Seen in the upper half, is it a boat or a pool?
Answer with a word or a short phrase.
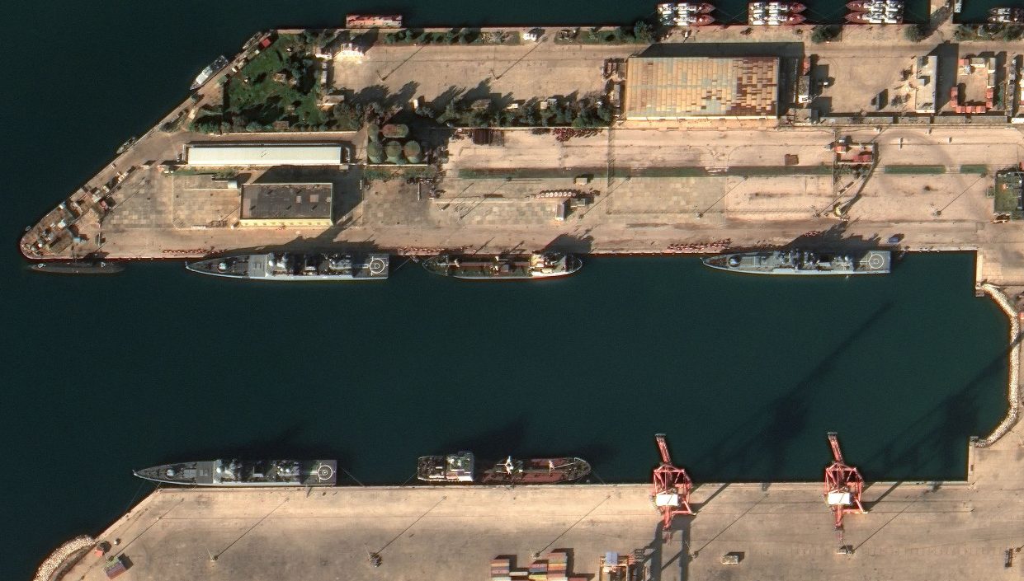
boat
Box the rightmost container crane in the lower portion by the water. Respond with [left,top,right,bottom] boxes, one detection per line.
[823,437,868,544]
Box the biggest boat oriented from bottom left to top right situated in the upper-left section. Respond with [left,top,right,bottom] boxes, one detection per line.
[190,55,230,90]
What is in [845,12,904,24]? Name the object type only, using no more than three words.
boat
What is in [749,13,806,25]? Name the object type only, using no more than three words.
boat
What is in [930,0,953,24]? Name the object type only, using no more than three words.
pier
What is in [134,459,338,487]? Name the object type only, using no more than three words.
ship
